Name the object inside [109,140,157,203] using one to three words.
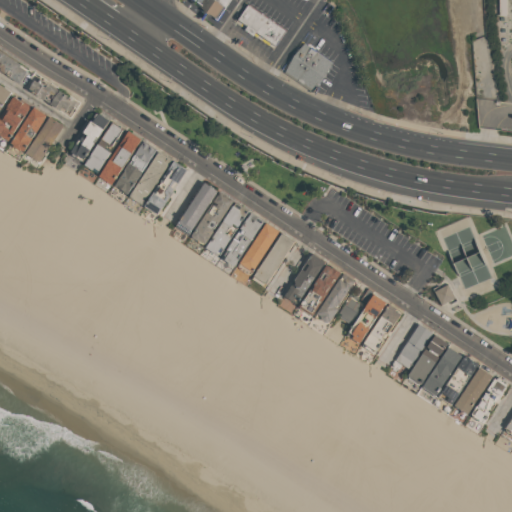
house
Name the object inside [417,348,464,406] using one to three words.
house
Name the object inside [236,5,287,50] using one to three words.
building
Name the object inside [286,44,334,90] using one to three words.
building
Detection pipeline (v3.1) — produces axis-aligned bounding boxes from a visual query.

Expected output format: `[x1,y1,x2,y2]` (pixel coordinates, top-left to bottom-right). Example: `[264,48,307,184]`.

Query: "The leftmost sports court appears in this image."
[444,228,491,288]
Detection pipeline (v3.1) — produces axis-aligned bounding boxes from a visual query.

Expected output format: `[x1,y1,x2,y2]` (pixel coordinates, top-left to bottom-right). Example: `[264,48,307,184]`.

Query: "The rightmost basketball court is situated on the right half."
[484,228,512,262]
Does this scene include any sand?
Yes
